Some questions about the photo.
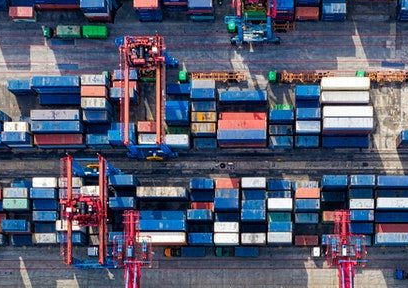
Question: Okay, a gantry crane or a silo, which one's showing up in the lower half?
gantry crane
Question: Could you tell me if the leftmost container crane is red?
Yes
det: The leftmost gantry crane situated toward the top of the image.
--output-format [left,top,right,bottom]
[113,36,178,161]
